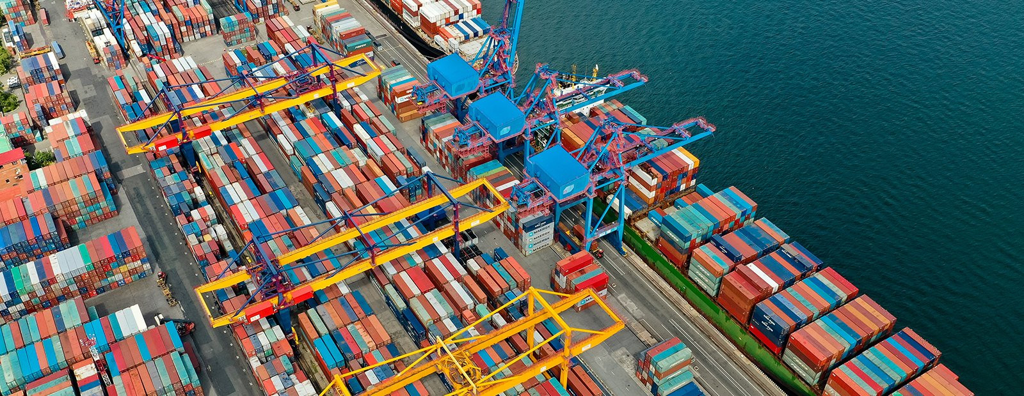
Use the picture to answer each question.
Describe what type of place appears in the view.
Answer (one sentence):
The area seen from above is a port.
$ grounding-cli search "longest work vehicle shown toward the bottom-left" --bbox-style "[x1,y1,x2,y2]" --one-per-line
[154,303,197,330]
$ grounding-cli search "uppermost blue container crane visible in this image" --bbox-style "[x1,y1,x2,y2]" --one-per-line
[99,0,128,56]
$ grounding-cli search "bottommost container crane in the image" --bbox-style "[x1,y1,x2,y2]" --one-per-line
[310,283,630,396]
